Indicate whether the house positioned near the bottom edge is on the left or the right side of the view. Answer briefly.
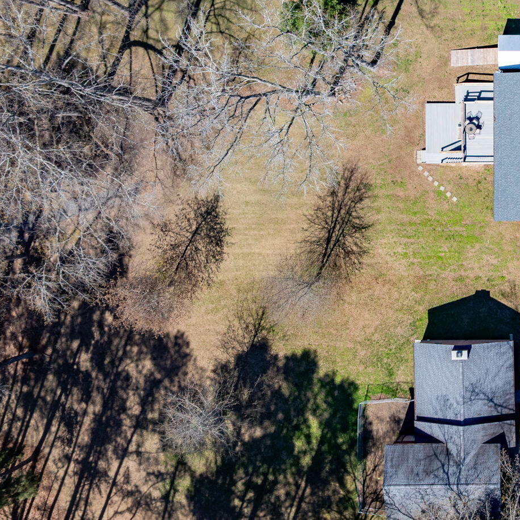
right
